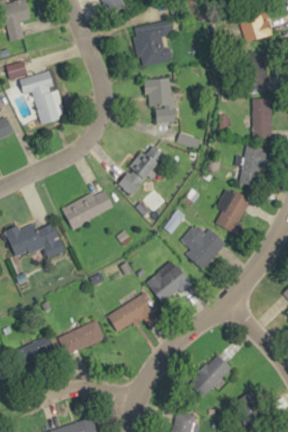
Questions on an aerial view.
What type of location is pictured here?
residential area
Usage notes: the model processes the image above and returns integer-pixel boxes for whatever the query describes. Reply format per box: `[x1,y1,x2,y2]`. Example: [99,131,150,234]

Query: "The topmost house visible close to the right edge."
[238,12,274,43]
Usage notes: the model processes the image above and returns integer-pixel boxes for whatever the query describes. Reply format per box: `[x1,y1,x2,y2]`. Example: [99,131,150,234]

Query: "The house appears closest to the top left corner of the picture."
[5,0,31,40]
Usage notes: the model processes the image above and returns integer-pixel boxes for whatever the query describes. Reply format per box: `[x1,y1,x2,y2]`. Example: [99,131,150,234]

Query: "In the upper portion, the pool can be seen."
[15,96,31,117]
